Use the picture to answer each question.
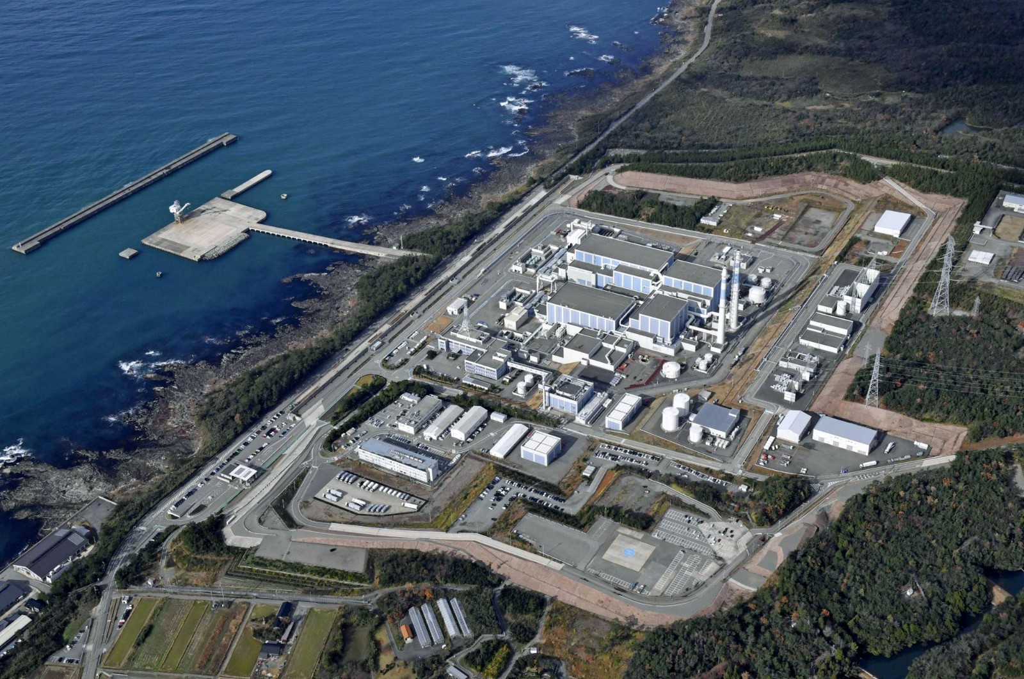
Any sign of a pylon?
Yes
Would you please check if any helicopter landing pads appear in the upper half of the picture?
No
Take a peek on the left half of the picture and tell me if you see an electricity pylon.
No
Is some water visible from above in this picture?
Yes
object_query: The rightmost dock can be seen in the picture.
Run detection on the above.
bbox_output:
[235,170,272,200]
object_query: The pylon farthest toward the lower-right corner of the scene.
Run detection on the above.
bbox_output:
[865,354,879,408]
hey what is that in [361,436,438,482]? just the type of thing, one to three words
building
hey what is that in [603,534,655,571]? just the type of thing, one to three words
helipad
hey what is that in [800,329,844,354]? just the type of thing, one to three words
building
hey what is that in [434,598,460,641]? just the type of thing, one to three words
greenhouse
